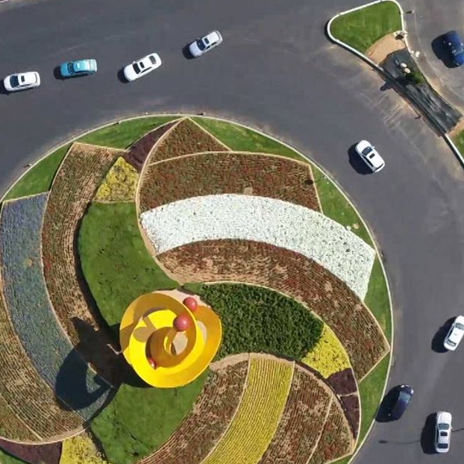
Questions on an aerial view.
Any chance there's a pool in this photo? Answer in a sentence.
No, there is no pool in the image.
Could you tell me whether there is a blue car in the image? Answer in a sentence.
Yes, the photo shows a blue car.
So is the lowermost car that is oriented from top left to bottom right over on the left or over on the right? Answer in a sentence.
The lowermost car that is oriented from top left to bottom right is on the right side of the image.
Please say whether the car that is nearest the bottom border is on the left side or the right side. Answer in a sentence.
The car that is nearest the bottom border sits on the right side.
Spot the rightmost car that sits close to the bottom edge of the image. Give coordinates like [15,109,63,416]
[433,413,452,450]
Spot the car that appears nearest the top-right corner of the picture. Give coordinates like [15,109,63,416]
[441,29,464,68]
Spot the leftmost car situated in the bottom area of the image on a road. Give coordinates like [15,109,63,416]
[388,384,415,421]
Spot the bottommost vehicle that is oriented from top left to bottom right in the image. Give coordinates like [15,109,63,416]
[353,139,386,174]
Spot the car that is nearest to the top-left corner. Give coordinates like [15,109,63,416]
[7,72,40,90]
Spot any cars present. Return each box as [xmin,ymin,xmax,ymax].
[187,29,224,57]
[61,58,97,77]
[441,29,464,68]
[7,72,40,90]
[353,139,386,174]
[125,54,162,82]
[388,384,415,421]
[433,413,452,450]
[442,315,464,352]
